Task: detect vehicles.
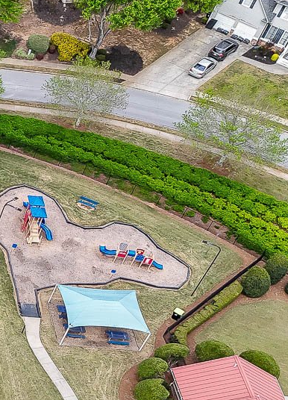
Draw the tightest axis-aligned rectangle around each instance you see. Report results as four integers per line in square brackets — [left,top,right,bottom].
[209,41,238,62]
[189,58,216,78]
